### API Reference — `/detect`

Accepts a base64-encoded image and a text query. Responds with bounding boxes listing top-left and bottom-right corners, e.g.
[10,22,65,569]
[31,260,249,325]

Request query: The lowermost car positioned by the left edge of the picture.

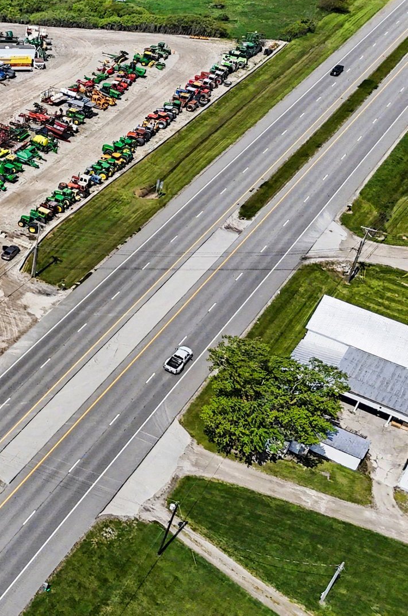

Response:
[0,245,22,260]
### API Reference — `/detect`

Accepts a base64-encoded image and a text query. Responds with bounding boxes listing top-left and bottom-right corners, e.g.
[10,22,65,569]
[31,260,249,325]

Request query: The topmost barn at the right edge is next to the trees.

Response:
[290,295,408,426]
